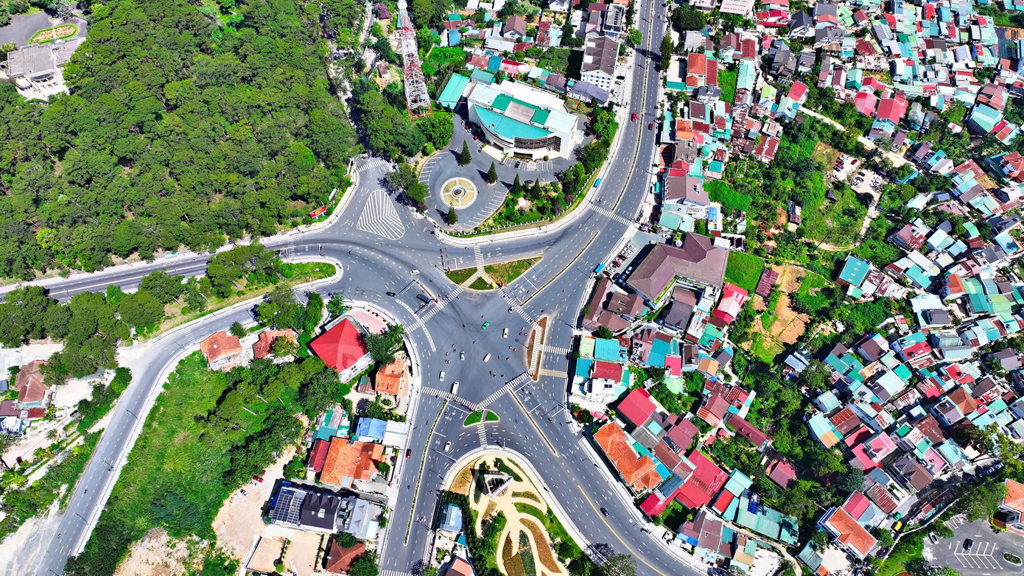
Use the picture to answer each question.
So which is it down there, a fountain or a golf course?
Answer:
fountain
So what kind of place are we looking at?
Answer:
residential area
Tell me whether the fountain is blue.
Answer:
No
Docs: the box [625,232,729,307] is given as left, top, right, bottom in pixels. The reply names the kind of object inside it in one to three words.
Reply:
building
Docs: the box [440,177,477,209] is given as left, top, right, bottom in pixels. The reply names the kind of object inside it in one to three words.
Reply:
fountain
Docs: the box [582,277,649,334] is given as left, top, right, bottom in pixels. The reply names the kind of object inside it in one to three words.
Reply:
house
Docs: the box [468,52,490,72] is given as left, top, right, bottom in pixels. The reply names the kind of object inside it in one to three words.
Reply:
shed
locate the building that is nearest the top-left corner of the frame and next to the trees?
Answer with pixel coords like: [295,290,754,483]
[7,36,91,86]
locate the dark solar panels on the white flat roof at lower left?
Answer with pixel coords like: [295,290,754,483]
[274,490,307,524]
